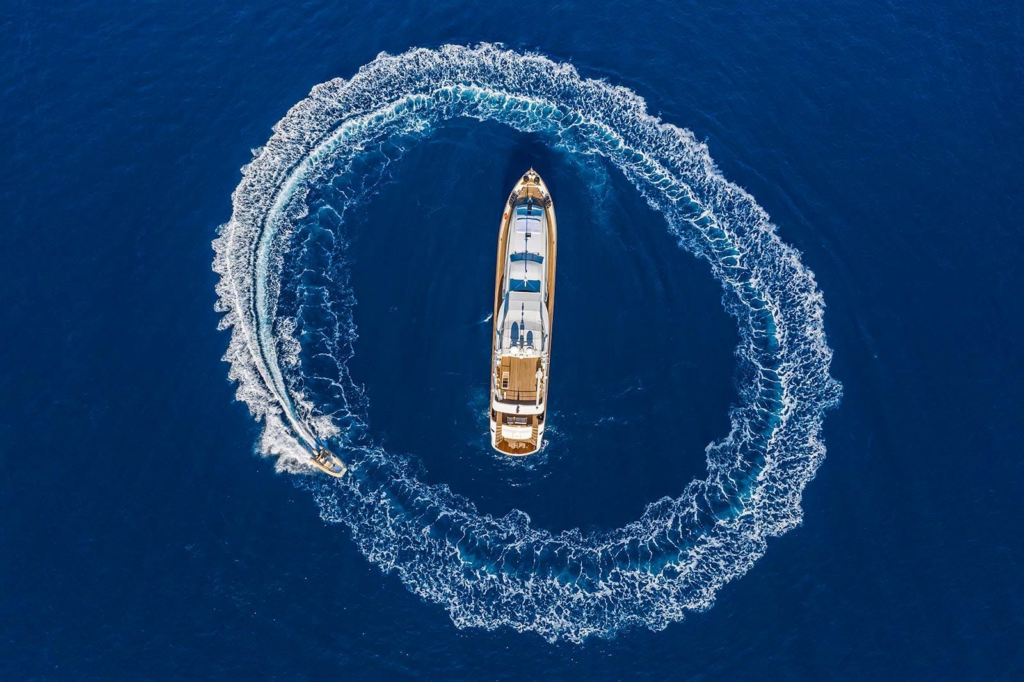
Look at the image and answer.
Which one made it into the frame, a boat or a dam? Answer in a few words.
boat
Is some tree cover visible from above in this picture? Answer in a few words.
No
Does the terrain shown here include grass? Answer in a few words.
No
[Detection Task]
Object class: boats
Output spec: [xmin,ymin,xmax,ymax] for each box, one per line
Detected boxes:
[490,166,558,456]
[311,444,347,475]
